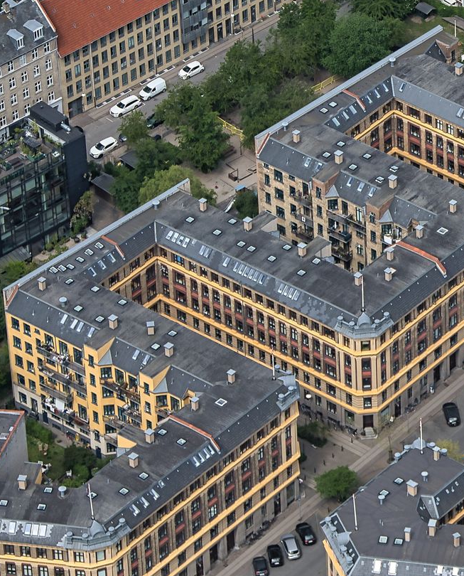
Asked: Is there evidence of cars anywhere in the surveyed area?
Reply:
Yes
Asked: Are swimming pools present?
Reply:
No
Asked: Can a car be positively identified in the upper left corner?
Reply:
Yes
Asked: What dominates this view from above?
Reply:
buildings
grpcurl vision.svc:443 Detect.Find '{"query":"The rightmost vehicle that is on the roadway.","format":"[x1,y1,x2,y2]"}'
[442,403,461,428]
